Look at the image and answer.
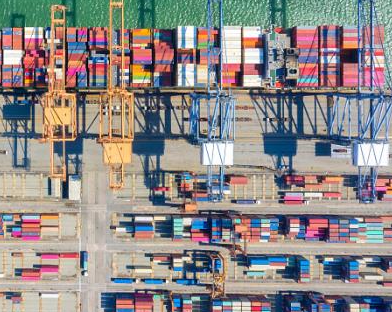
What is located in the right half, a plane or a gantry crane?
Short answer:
gantry crane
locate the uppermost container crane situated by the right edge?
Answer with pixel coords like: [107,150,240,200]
[302,0,392,203]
